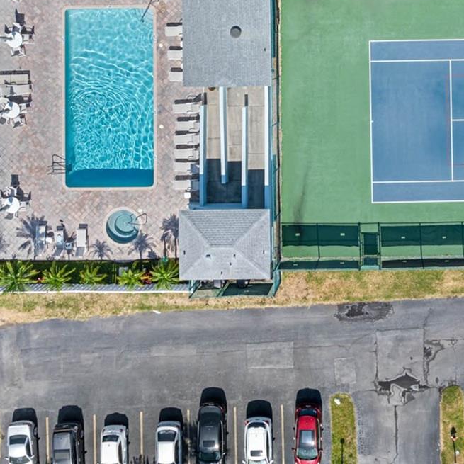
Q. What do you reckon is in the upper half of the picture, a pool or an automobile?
pool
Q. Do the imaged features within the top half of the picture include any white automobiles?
No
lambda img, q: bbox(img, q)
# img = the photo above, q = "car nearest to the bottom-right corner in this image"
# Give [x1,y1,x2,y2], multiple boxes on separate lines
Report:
[290,405,324,464]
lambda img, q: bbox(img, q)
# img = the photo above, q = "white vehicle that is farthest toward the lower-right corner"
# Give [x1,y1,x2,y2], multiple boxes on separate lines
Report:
[244,416,275,464]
